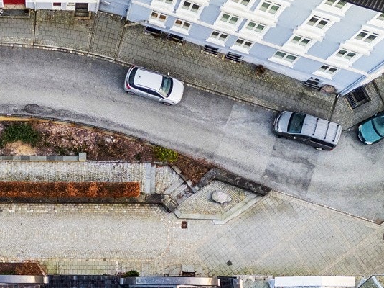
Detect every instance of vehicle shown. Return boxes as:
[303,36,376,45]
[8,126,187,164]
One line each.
[119,62,186,109]
[355,110,384,146]
[271,106,349,152]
